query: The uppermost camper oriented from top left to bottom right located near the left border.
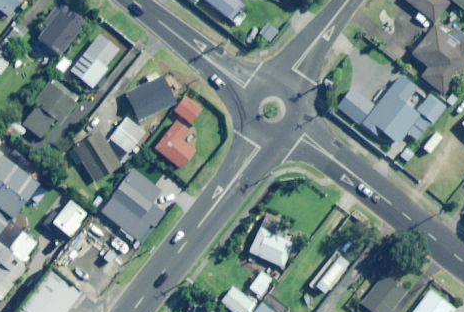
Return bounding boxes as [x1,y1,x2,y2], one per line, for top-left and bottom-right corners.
[10,122,26,136]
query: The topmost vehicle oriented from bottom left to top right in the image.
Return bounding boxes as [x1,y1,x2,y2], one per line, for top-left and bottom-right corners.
[246,26,259,42]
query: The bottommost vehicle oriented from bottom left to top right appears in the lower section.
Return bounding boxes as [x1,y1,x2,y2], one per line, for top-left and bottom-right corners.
[153,272,168,288]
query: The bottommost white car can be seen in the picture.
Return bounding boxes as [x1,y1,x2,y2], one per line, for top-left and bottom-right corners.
[170,230,184,245]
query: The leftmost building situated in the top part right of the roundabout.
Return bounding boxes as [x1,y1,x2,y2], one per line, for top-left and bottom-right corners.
[338,88,374,124]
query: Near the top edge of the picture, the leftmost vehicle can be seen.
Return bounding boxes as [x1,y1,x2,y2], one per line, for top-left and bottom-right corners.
[128,4,144,18]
